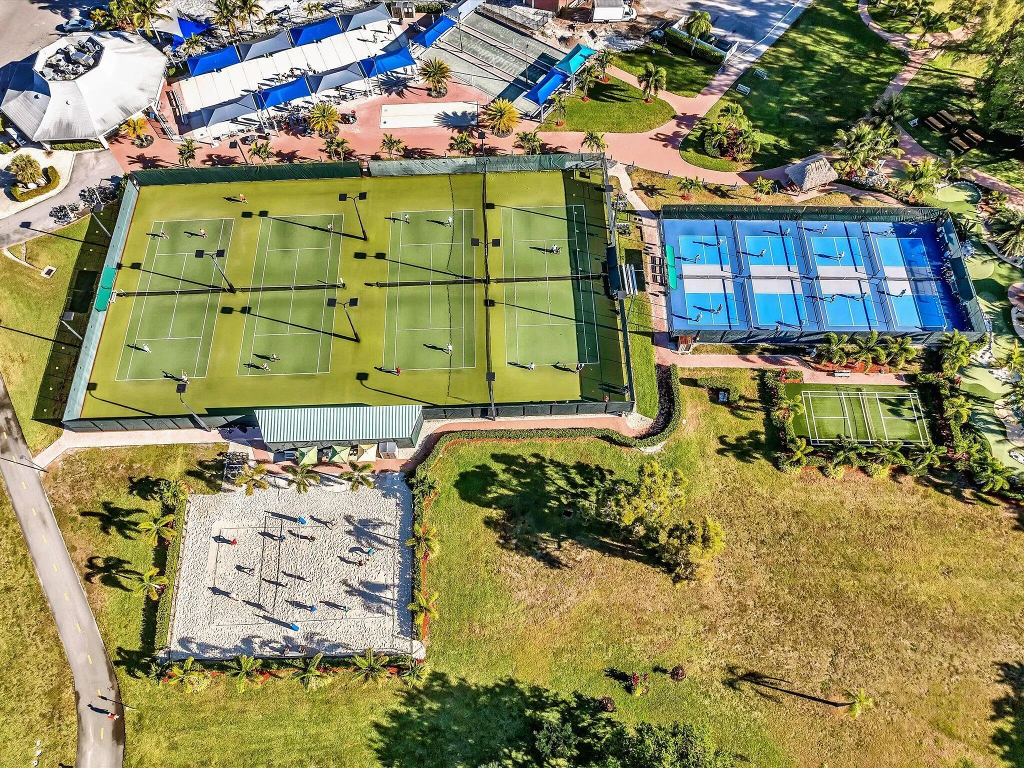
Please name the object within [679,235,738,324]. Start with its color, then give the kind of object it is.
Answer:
blue sports court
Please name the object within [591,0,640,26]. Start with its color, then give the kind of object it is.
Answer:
white truck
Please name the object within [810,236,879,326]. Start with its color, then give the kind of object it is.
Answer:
blue sports court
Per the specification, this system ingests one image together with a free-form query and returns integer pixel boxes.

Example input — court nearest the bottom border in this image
[168,482,419,659]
